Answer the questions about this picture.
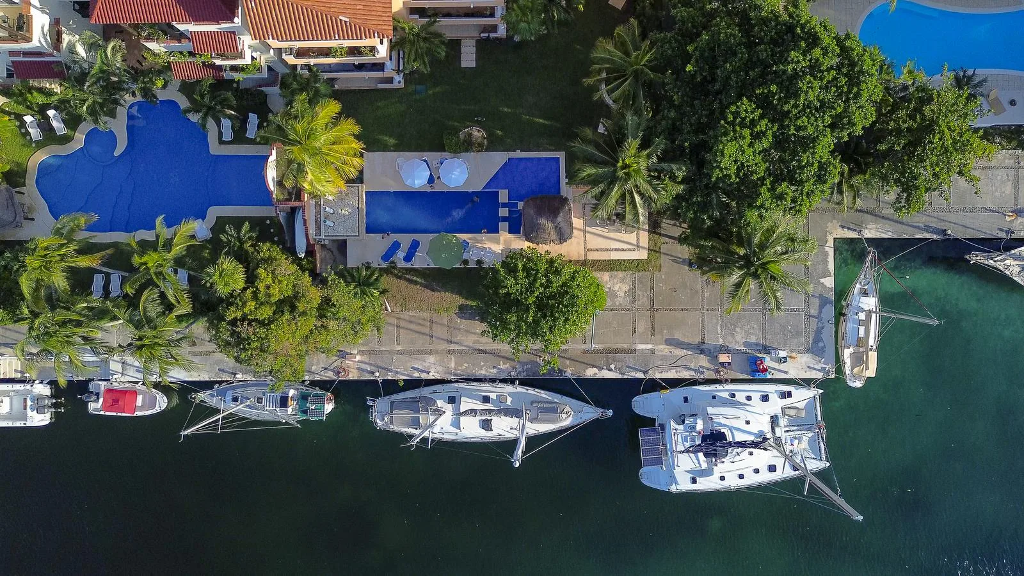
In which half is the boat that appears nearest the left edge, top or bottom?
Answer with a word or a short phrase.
bottom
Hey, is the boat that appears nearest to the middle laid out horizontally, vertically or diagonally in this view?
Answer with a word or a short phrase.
horizontally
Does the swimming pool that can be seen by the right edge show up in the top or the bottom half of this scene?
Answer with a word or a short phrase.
top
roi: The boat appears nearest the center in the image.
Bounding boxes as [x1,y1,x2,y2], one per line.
[367,383,612,469]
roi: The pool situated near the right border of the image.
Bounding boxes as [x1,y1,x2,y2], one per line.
[854,0,1024,84]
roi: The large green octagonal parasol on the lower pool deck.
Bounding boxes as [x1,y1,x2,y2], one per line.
[428,232,466,270]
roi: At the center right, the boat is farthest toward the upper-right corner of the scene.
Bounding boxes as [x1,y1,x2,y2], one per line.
[961,246,1024,287]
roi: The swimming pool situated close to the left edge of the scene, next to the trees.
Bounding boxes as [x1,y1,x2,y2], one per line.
[26,91,280,240]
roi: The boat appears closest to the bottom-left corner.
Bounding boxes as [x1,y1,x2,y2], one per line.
[0,383,63,427]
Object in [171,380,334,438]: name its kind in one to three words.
boat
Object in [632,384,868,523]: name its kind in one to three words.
boat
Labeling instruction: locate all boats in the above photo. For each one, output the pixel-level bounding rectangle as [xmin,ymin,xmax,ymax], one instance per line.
[632,384,868,523]
[171,380,334,438]
[839,247,941,387]
[367,383,612,469]
[72,380,172,416]
[0,383,63,427]
[961,246,1024,287]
